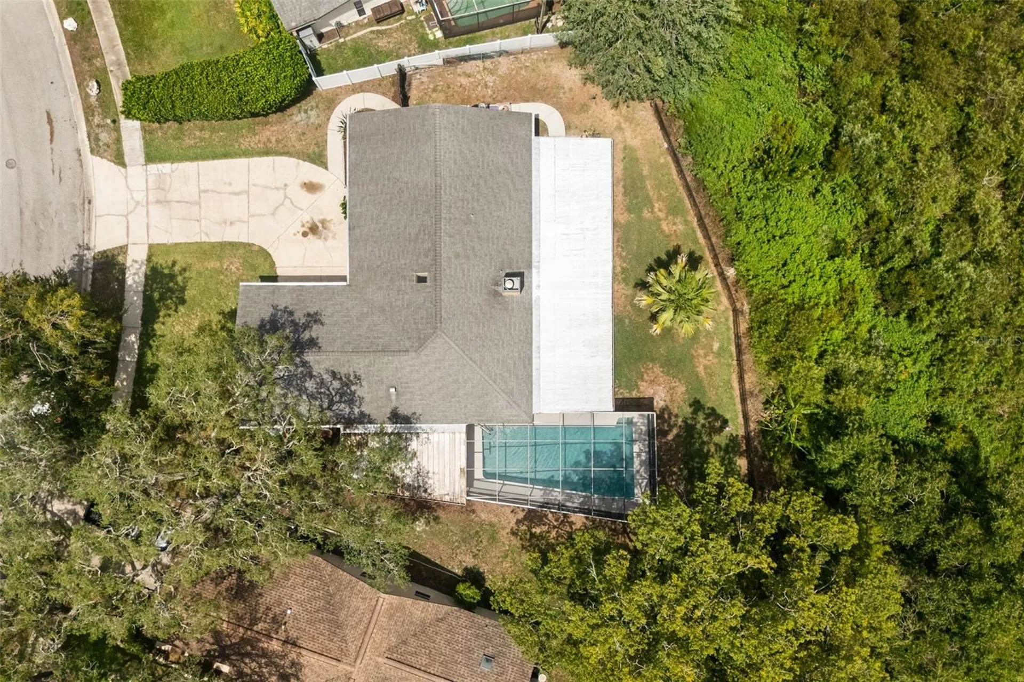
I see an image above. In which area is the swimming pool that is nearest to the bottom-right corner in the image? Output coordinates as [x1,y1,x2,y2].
[476,413,640,502]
